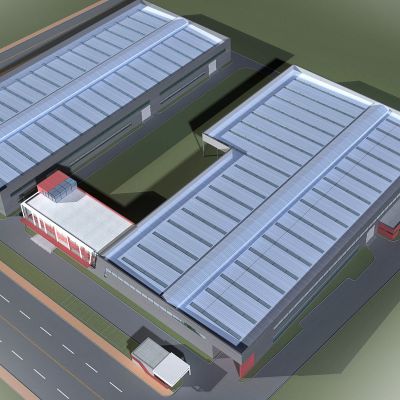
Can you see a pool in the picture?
No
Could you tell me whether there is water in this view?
No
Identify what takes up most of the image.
buildings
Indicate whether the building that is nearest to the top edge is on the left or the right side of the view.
left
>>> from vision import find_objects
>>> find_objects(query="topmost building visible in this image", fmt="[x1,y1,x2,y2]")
[0,0,231,216]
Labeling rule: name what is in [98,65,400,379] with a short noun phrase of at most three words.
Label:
building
